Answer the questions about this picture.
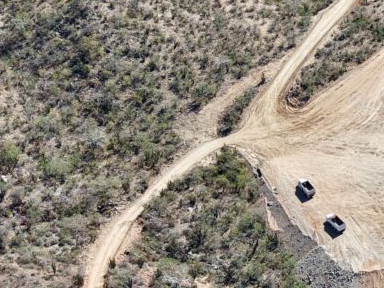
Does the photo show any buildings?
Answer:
No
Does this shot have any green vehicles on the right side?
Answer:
No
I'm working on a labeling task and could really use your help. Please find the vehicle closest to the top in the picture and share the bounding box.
[293,180,314,202]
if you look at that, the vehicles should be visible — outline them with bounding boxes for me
[293,180,314,202]
[322,214,343,237]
